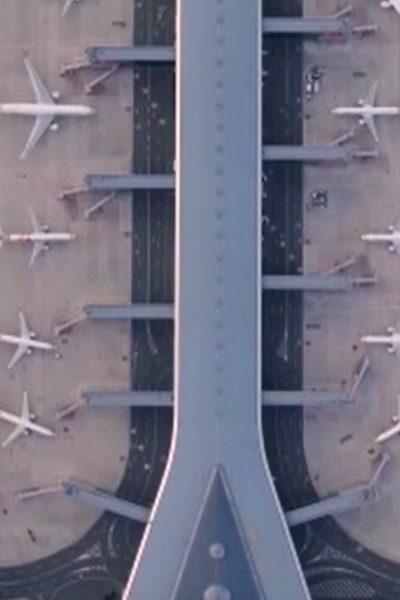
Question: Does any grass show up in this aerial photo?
No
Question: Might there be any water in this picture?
No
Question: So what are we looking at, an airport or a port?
airport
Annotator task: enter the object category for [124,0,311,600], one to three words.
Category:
building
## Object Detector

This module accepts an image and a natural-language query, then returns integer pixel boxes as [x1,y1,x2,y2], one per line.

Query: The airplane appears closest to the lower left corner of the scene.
[0,389,55,447]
